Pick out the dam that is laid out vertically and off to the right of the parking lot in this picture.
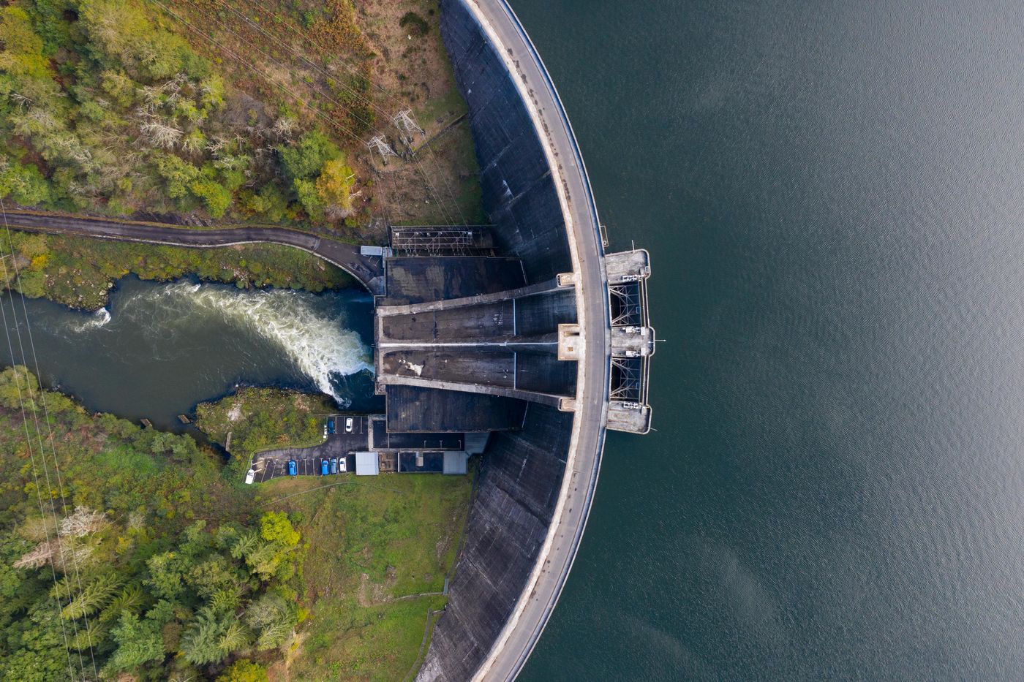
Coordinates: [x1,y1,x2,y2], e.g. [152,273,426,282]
[418,0,614,682]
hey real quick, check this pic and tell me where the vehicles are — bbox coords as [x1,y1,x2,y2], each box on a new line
[330,459,337,473]
[322,460,329,474]
[289,461,296,475]
[245,469,254,484]
[346,418,353,432]
[339,458,346,472]
[328,419,334,434]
